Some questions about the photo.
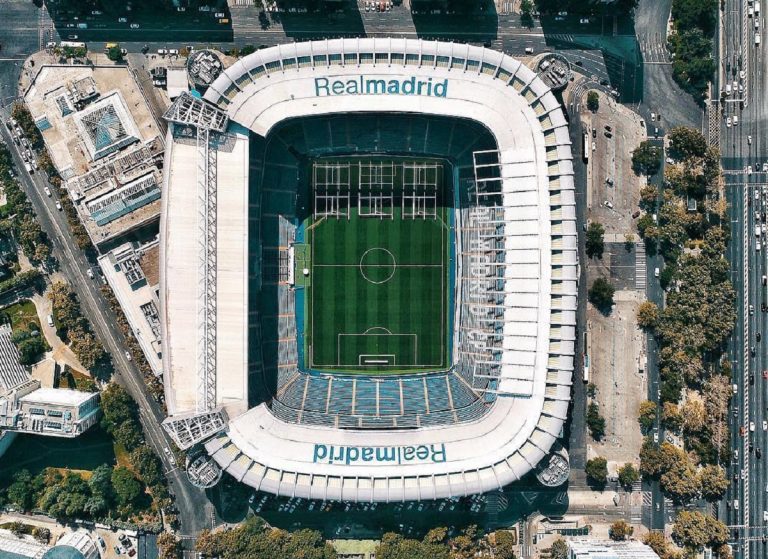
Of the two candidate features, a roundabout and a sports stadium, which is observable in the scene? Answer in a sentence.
Of the two, only a sports stadium appears.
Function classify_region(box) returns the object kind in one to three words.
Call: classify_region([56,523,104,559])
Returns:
building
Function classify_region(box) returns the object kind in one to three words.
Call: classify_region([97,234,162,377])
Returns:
building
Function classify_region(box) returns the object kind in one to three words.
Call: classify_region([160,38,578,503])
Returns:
stadium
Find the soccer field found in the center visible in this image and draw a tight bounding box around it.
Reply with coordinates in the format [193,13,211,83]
[298,157,455,374]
